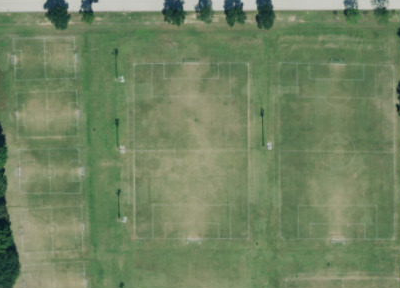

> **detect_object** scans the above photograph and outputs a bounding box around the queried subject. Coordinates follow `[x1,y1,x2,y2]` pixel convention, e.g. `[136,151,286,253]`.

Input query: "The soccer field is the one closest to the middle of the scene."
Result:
[128,64,254,240]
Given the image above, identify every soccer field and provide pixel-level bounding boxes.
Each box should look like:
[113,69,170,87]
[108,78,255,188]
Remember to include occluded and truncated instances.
[16,92,78,138]
[128,64,254,240]
[21,206,82,254]
[18,149,81,194]
[24,262,85,288]
[14,37,76,81]
[274,64,394,240]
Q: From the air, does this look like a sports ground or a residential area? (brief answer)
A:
sports ground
